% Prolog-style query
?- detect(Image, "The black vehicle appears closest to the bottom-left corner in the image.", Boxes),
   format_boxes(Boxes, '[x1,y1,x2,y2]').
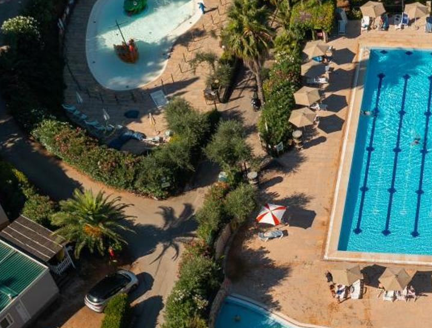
[85,268,138,313]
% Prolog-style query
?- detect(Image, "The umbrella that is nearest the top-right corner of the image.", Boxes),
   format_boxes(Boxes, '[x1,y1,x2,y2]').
[401,2,432,20]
